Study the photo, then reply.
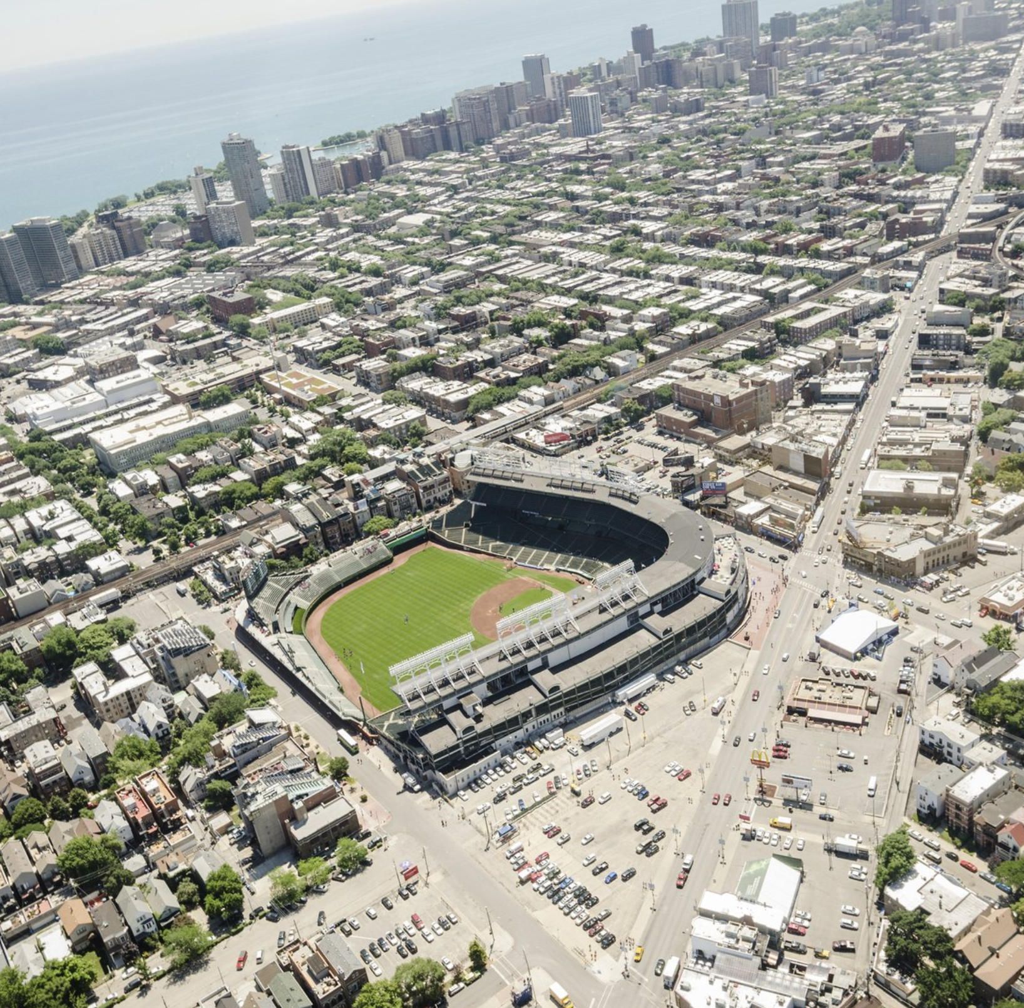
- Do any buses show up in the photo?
Yes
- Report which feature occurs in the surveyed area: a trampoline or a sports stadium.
sports stadium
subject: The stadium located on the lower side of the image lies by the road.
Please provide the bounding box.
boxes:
[233,447,752,798]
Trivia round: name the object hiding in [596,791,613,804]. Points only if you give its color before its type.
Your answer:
white vehicle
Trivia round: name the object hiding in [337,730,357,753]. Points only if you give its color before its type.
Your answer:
white bus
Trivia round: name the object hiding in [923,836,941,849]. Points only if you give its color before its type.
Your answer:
white vehicle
